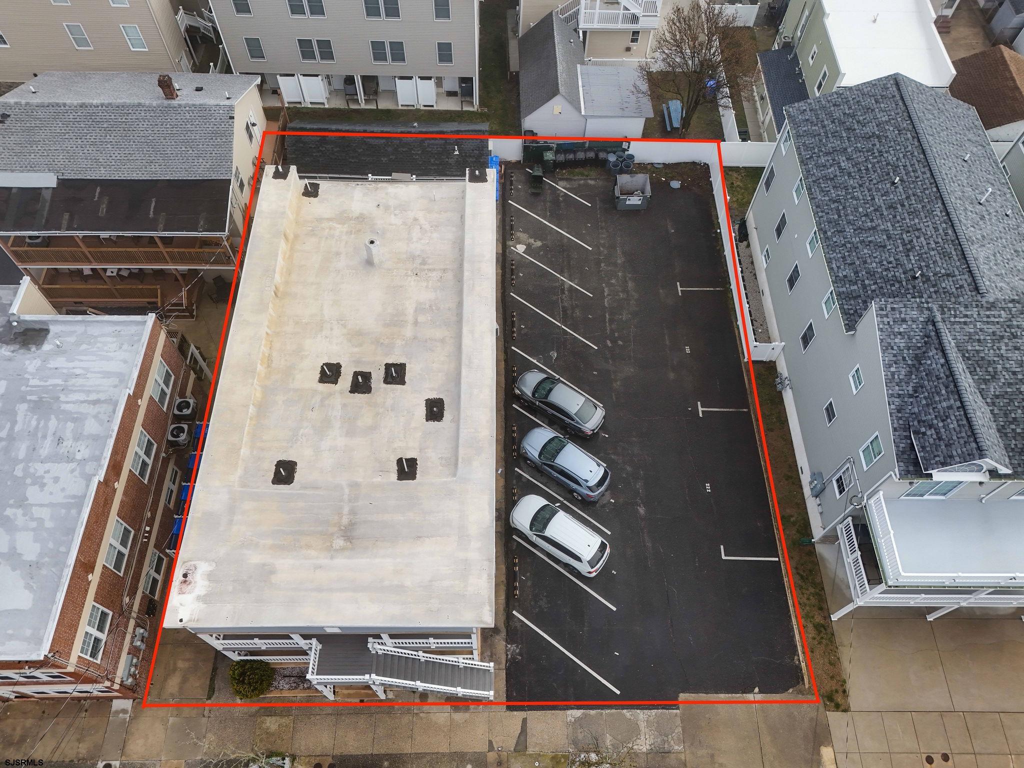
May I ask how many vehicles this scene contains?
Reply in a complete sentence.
The photo contains 3 vehicles.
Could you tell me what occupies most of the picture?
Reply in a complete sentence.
The scene is dominated by buildings.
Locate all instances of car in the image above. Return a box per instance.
[511,496,607,577]
[521,430,609,501]
[514,371,603,437]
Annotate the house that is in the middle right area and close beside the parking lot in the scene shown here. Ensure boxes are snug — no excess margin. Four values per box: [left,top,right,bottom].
[747,71,1024,622]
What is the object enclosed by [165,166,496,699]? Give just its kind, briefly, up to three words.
house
